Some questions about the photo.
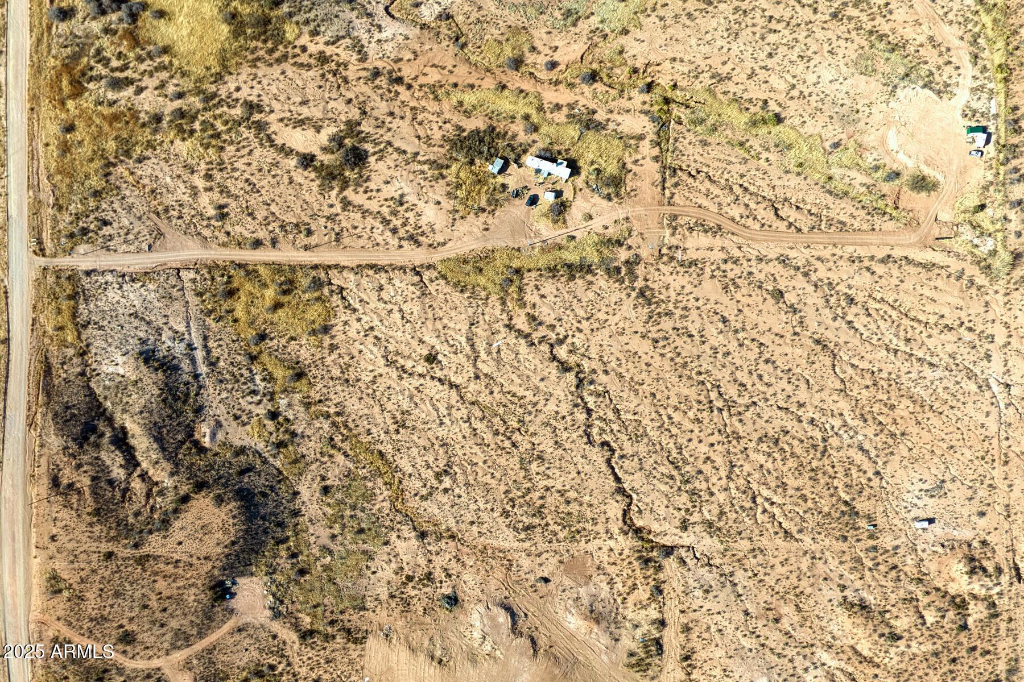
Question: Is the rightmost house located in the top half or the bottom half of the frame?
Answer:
top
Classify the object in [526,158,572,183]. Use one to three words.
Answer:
house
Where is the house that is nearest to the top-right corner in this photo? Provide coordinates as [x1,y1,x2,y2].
[963,126,986,150]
